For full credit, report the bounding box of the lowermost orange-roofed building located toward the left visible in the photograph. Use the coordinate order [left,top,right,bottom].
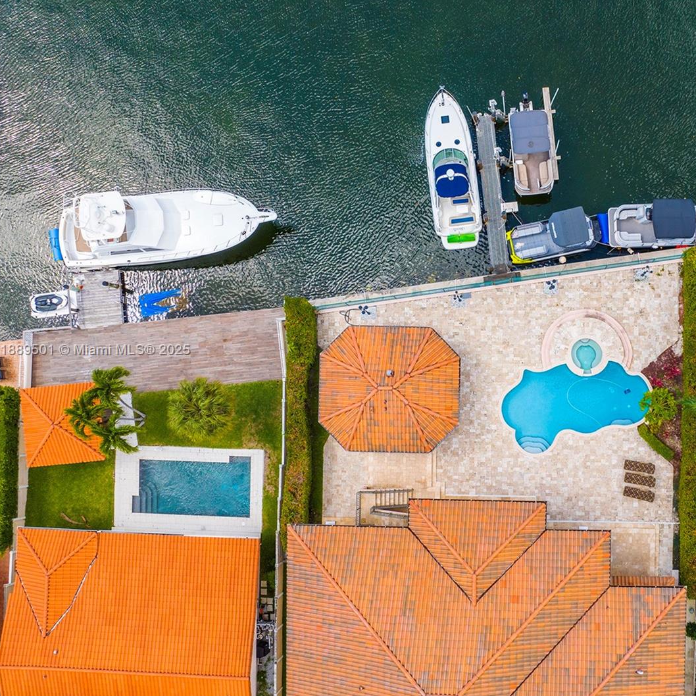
[0,525,260,696]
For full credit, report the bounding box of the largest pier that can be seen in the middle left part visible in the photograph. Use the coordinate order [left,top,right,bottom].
[68,267,126,328]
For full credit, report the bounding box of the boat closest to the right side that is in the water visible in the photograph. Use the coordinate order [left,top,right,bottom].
[608,199,696,248]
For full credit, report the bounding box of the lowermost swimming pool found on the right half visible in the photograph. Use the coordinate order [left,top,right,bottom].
[499,360,655,456]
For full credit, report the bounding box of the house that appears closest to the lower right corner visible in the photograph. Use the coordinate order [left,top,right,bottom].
[285,497,689,696]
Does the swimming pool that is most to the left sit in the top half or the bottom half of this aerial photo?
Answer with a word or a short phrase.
bottom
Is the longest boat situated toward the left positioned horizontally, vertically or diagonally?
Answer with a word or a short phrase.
horizontally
